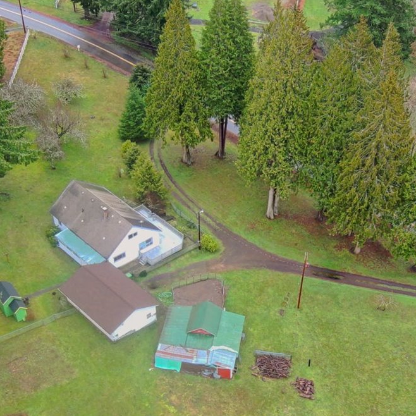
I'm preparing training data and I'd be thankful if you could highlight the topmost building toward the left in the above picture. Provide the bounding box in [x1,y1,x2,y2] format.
[50,180,184,270]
